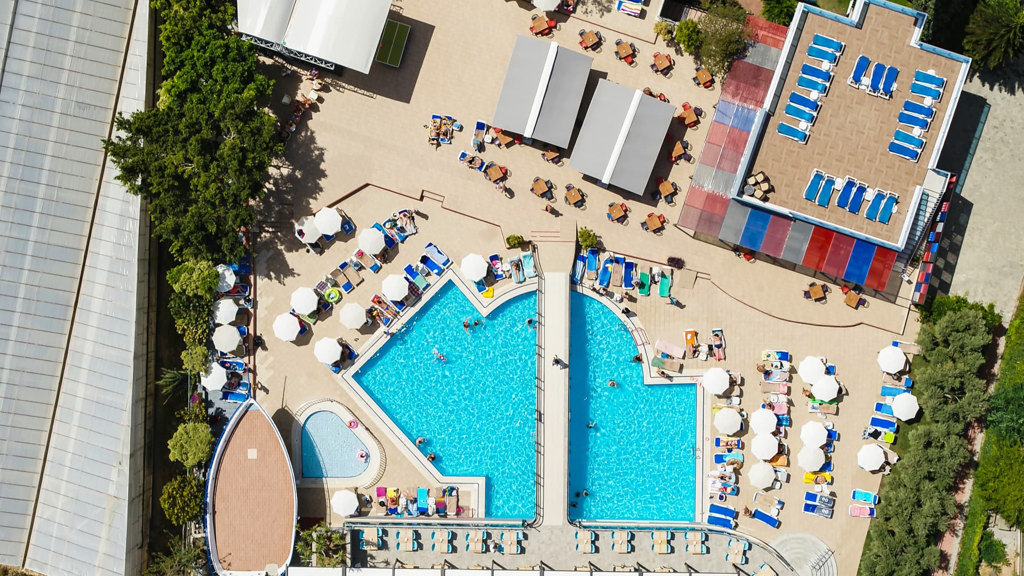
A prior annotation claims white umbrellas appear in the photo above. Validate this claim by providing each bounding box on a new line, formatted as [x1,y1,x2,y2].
[749,434,776,460]
[461,255,489,283]
[331,488,359,516]
[313,336,342,364]
[382,275,411,303]
[878,345,905,372]
[295,216,322,244]
[200,363,228,391]
[358,229,387,257]
[891,393,919,422]
[750,409,778,436]
[339,302,367,330]
[746,460,774,488]
[712,405,740,433]
[292,288,320,315]
[703,367,731,395]
[273,313,300,340]
[213,325,240,352]
[212,297,240,325]
[797,353,826,382]
[856,443,885,472]
[313,207,341,236]
[797,419,826,446]
[809,375,838,402]
[797,445,826,471]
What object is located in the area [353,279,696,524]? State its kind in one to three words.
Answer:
swimming pool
